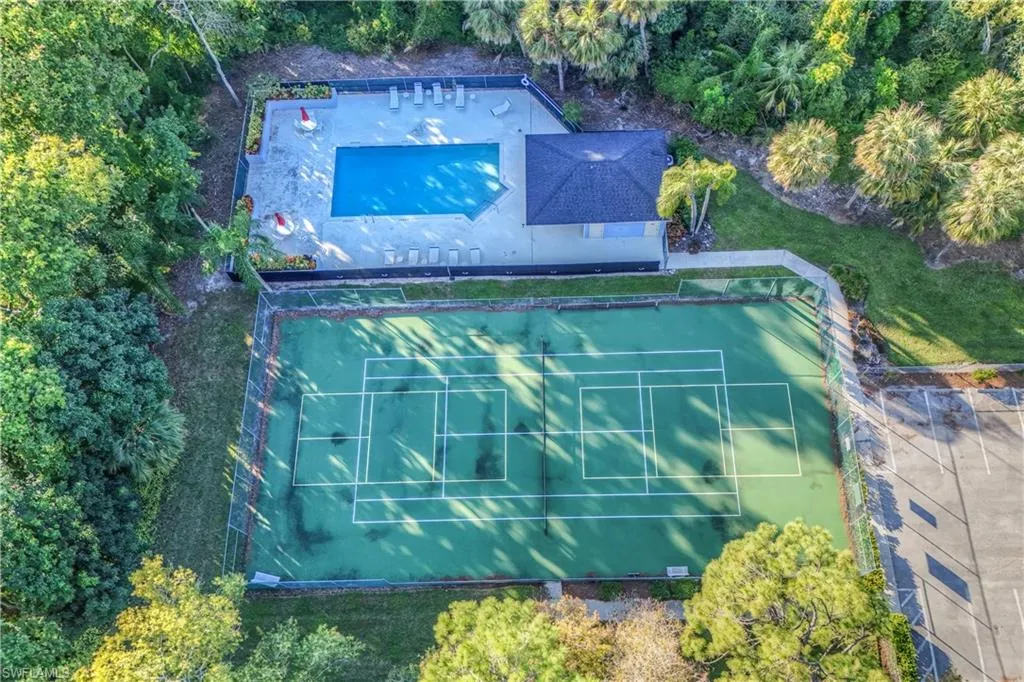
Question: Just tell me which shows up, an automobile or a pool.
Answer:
pool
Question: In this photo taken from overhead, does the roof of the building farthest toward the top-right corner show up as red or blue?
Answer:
blue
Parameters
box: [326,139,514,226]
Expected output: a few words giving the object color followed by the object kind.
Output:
blue swimming pool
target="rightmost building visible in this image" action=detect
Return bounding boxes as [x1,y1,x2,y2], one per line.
[525,129,669,243]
